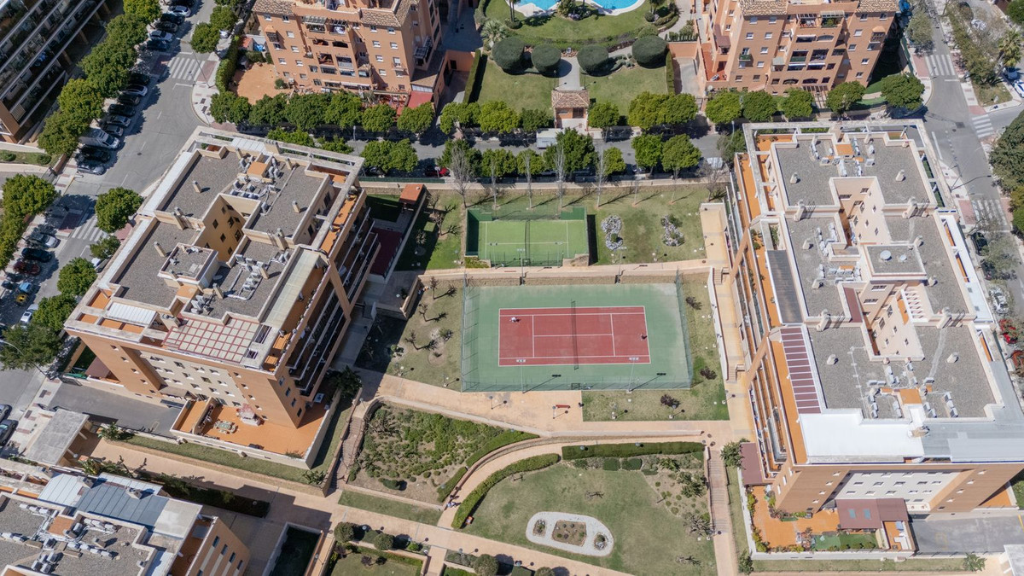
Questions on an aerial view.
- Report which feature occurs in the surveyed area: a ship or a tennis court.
tennis court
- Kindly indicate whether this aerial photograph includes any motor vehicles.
Yes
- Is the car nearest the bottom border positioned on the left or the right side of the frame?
left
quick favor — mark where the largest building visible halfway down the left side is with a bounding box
[59,130,383,430]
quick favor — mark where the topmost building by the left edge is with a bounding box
[0,0,120,142]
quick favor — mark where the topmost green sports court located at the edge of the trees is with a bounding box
[473,201,594,268]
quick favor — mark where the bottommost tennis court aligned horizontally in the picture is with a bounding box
[462,282,692,393]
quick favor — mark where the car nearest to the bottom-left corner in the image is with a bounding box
[0,415,20,444]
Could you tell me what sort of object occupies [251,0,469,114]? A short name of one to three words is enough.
building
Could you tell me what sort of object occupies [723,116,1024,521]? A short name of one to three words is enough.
building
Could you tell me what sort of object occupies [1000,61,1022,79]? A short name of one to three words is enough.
car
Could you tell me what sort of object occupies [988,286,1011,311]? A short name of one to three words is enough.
car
